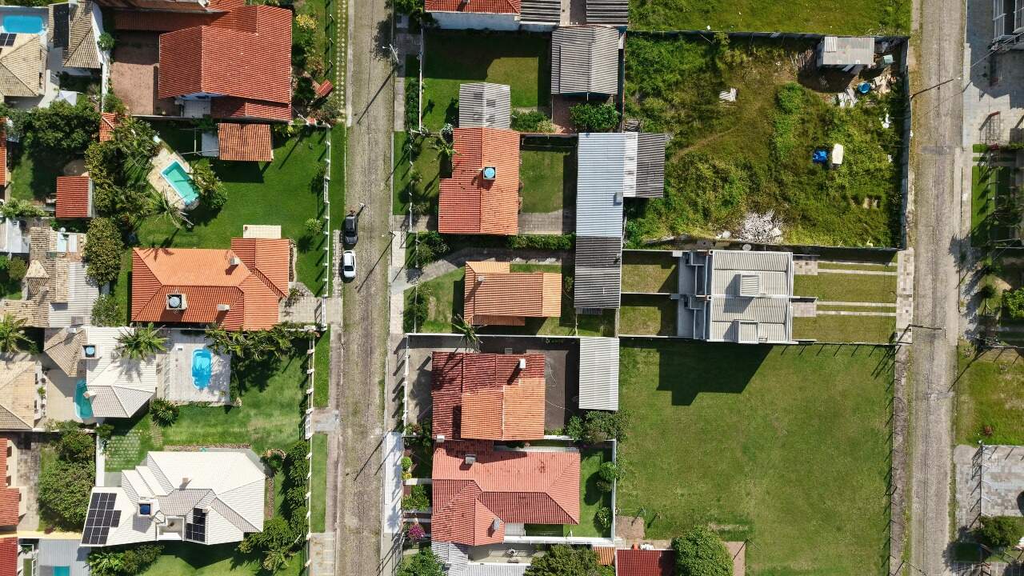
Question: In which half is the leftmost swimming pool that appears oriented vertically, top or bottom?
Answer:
bottom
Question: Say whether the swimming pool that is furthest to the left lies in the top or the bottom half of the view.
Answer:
top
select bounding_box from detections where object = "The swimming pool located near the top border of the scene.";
[0,12,44,35]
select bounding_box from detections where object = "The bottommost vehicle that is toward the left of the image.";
[340,250,356,278]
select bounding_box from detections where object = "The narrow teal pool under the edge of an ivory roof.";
[73,378,93,420]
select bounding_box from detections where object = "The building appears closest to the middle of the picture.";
[464,261,562,326]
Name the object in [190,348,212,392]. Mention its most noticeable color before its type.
blue swimming pool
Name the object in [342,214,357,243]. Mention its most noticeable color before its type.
black car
